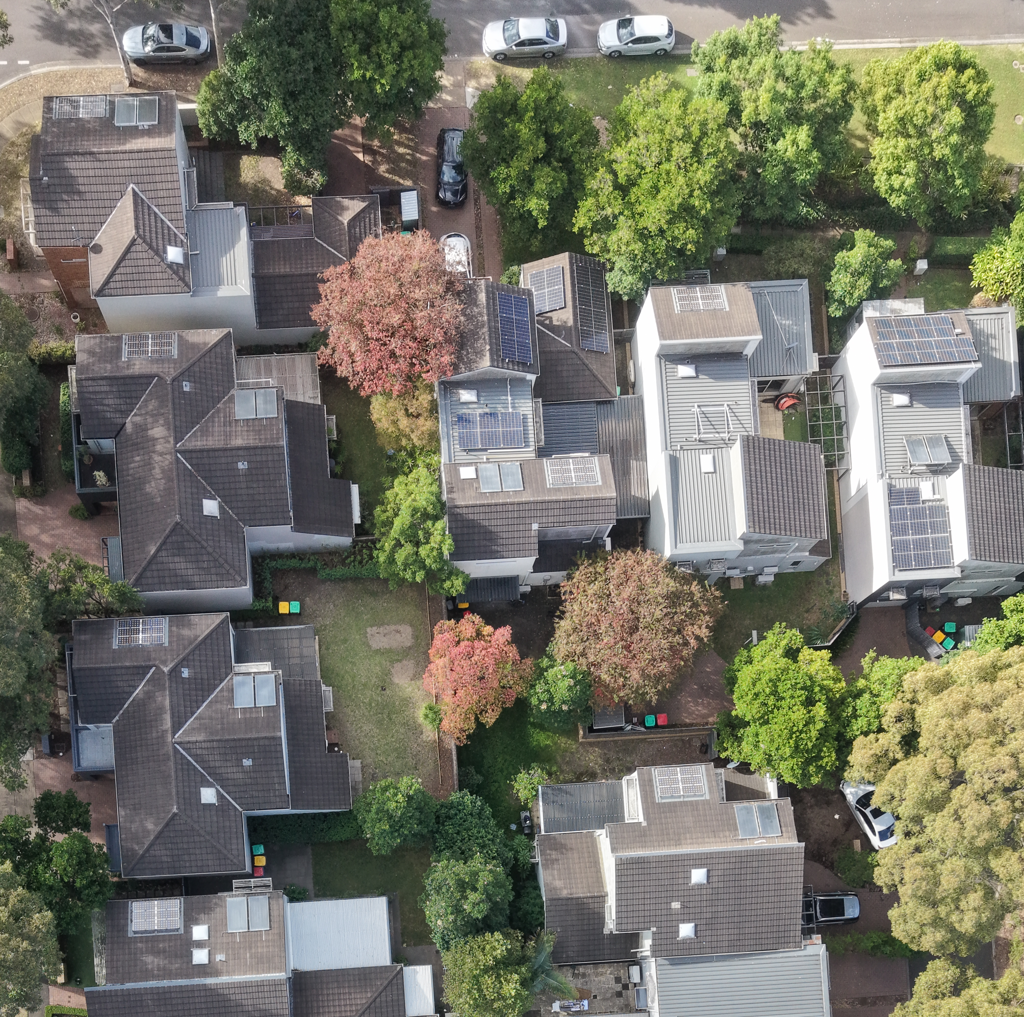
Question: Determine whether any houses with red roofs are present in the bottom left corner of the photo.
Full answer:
No, I can find no house with a red roof in the bottom left corner of the photo.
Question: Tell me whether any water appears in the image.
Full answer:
No, there's no water in this view.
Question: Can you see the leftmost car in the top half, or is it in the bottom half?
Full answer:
It is in the top half that the leftmost car appears.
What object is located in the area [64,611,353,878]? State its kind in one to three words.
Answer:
house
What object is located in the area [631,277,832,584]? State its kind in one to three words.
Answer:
house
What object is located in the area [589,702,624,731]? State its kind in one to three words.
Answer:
shed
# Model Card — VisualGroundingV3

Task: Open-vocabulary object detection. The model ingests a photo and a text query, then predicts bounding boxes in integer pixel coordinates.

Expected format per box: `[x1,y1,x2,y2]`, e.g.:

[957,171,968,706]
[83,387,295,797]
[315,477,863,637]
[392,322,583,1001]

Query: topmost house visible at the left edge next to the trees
[20,89,384,349]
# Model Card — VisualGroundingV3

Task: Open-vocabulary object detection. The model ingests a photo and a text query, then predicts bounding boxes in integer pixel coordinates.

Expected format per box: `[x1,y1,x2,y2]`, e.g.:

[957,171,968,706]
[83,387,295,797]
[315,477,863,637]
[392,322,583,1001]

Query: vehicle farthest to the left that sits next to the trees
[120,17,208,65]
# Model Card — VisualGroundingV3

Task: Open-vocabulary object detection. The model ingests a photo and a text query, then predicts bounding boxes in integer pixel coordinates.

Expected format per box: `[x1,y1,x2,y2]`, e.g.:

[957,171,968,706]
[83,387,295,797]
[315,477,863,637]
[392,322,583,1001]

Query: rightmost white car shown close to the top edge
[600,7,680,54]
